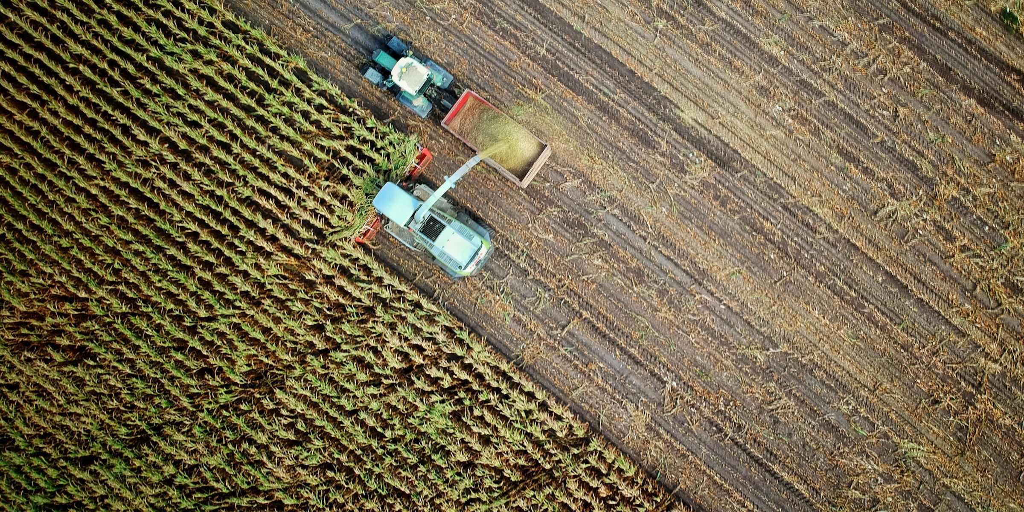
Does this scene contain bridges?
No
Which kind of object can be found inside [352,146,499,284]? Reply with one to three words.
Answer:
work vehicle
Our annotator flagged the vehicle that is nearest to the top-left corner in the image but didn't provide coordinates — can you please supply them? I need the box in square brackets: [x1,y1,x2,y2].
[366,39,456,123]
